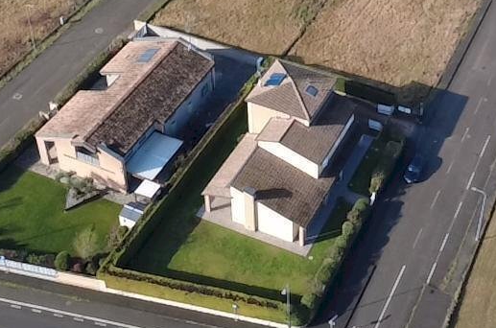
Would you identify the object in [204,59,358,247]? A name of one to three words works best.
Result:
house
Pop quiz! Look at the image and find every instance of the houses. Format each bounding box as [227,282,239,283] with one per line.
[34,37,212,194]
[204,59,358,247]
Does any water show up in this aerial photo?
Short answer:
No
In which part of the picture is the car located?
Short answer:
right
